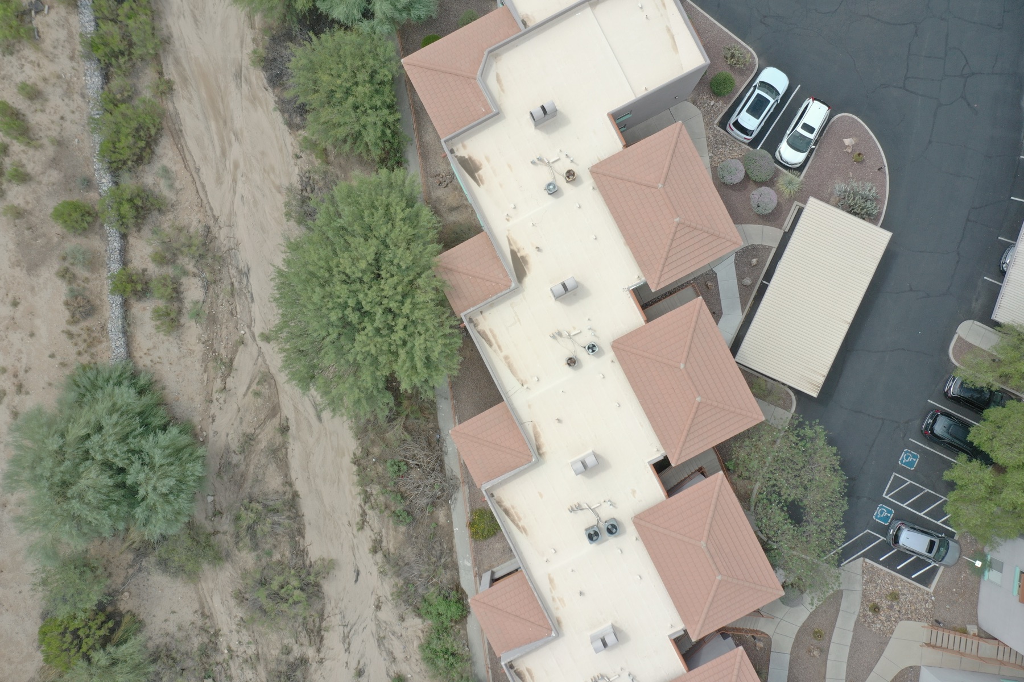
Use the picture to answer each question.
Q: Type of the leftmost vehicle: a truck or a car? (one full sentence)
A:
The leftmost vehicle in the image is a car.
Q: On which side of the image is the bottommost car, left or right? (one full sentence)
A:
You can find the bottommost car on the right side of the picture.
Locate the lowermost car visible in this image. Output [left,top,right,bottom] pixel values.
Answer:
[879,518,961,571]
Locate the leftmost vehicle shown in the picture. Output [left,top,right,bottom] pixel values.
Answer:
[725,67,786,149]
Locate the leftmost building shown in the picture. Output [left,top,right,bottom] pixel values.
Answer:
[401,0,787,682]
